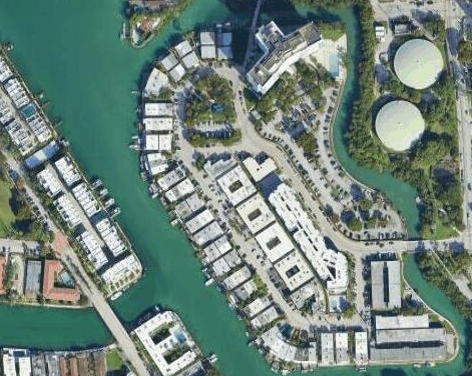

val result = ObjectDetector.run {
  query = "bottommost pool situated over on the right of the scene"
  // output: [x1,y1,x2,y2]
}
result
[279,320,297,339]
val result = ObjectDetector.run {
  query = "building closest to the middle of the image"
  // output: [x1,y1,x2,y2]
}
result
[217,166,257,206]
